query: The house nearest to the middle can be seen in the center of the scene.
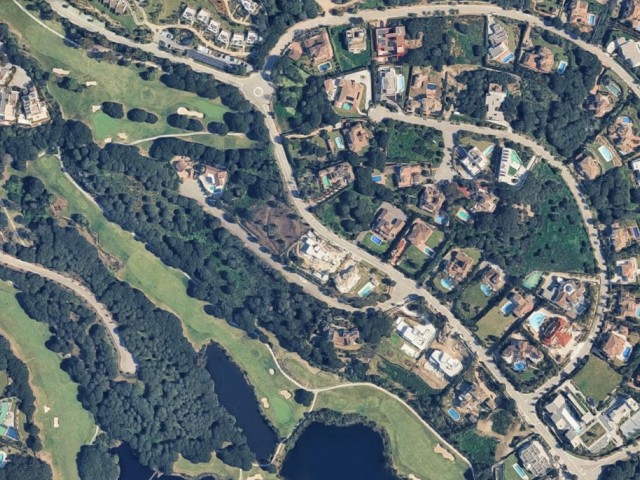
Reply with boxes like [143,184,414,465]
[306,232,345,268]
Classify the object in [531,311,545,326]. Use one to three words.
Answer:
swimming pool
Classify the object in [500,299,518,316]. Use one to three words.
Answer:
swimming pool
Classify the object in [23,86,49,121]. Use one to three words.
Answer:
building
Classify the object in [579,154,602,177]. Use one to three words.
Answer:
house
